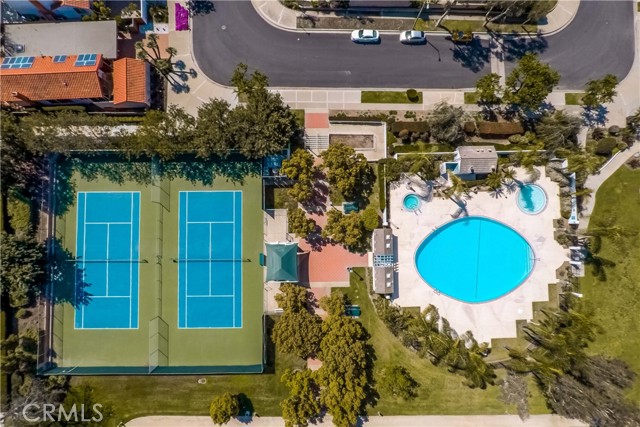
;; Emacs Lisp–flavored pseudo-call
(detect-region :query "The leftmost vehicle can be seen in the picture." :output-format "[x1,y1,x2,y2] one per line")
[351,31,378,44]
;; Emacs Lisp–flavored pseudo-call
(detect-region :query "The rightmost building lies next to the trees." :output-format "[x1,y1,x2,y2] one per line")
[456,147,501,173]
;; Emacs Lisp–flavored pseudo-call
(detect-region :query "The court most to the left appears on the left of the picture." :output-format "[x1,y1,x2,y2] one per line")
[50,153,160,366]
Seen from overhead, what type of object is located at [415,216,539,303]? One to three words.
swimming pool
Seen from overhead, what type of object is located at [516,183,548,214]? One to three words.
swimming pool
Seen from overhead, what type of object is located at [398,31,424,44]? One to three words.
vehicle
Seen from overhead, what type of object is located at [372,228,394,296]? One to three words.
building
